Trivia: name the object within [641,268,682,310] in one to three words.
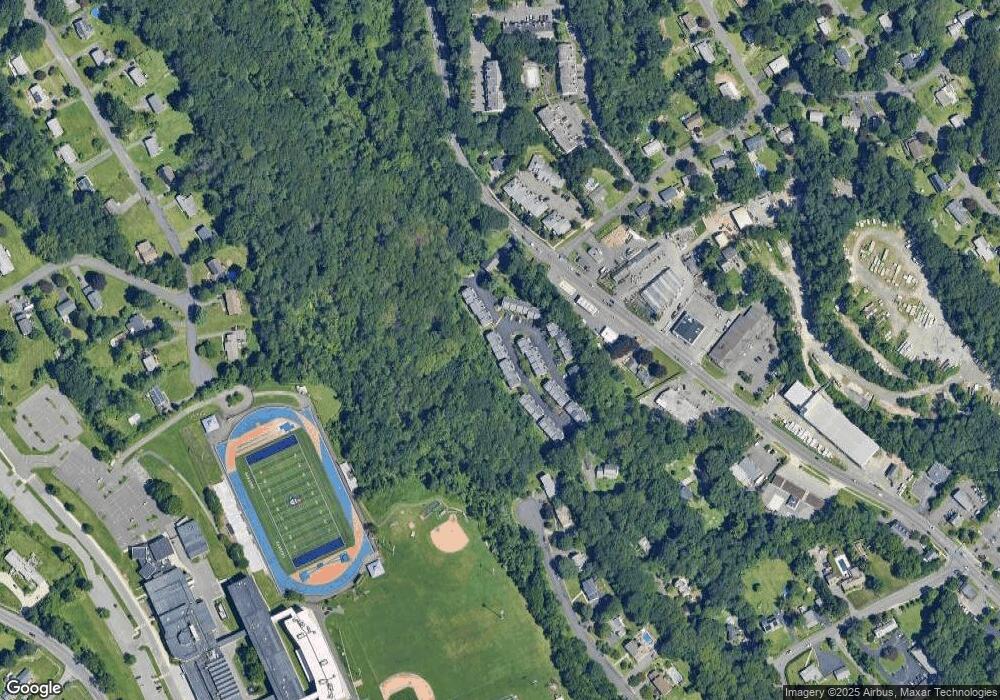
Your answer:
greenhouse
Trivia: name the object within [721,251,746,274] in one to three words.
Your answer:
house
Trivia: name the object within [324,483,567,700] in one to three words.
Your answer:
sports field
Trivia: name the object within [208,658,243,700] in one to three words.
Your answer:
building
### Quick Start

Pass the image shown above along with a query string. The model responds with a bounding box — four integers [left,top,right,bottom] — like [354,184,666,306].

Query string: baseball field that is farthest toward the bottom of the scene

[350,634,435,700]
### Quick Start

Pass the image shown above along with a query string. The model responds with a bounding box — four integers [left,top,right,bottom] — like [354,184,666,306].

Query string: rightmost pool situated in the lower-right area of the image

[835,555,851,577]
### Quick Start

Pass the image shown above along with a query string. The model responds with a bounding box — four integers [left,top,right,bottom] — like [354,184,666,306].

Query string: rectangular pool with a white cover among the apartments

[522,61,540,88]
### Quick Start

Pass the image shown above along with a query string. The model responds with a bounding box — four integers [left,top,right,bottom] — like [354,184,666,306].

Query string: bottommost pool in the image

[640,627,658,648]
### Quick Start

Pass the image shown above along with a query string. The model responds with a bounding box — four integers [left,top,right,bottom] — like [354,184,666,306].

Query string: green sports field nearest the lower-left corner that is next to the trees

[236,428,355,575]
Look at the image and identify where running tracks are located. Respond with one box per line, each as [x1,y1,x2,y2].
[216,406,374,595]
